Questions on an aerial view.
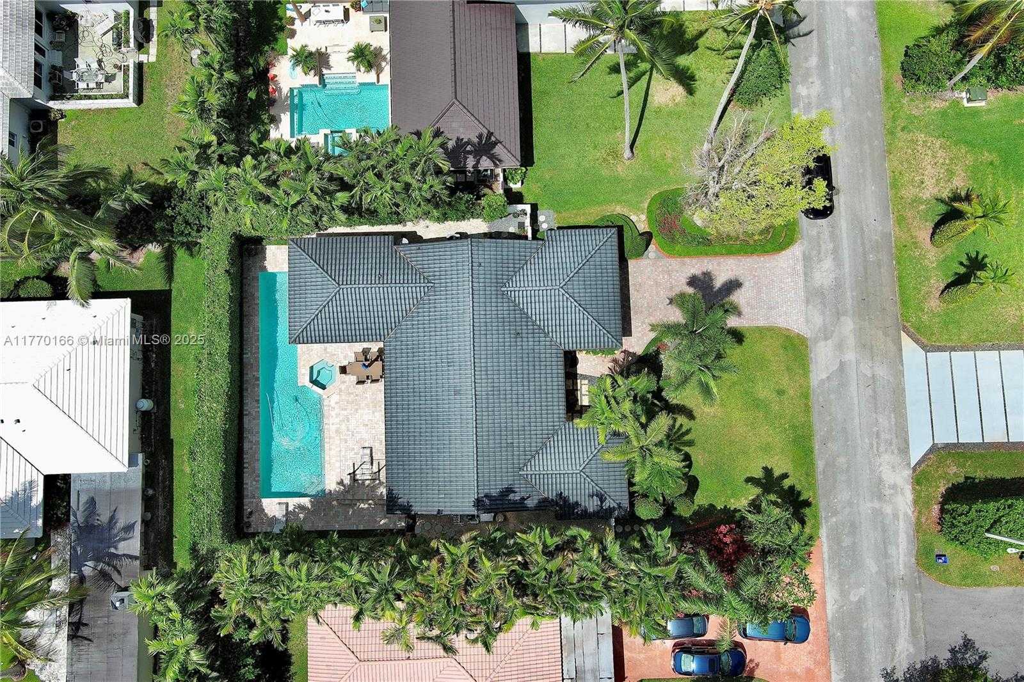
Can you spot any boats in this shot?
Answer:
No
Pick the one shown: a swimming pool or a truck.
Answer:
swimming pool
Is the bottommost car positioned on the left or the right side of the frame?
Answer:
right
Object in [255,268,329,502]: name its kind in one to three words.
swimming pool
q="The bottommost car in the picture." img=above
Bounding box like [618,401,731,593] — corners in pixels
[671,643,748,680]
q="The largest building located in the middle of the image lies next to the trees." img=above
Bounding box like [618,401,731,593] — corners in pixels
[286,226,632,520]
